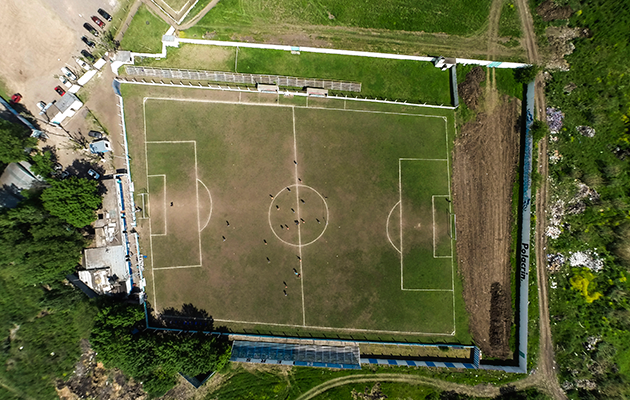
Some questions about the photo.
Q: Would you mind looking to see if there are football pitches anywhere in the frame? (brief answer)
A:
Yes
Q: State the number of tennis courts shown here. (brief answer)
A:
zero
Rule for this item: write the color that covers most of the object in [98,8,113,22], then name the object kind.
black car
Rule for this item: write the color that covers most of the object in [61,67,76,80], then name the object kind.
white vehicle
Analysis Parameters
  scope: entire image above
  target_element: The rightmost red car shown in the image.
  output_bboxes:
[90,15,106,28]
